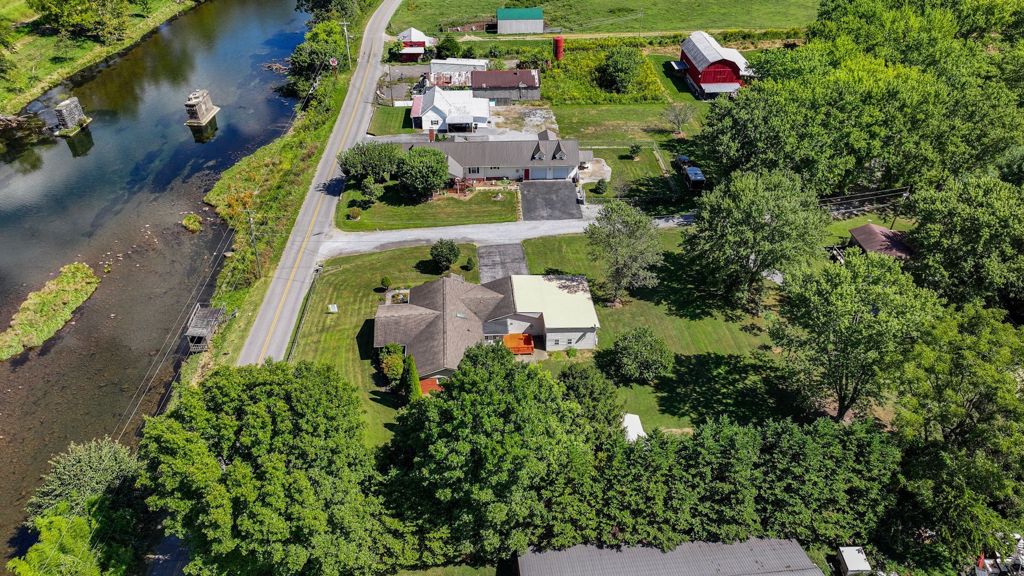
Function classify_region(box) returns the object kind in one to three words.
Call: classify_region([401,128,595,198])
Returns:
house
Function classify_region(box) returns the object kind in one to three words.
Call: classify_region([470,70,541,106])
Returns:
shed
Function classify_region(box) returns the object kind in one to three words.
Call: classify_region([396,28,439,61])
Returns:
barn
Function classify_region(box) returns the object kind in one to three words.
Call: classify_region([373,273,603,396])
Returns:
house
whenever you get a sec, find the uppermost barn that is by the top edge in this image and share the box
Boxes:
[496,7,545,34]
